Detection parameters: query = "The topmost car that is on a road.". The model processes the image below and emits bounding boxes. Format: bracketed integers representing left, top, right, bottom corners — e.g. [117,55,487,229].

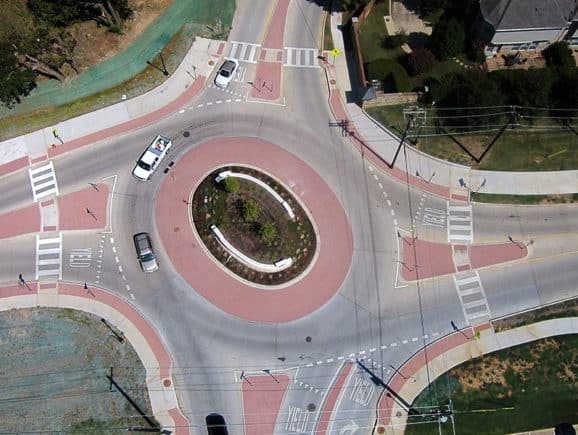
[213,56,240,90]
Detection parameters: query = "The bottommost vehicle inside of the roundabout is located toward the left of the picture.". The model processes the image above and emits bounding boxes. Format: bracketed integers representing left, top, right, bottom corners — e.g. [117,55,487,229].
[131,230,161,274]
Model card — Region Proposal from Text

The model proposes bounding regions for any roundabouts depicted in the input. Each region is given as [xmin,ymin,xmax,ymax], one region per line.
[107,98,402,376]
